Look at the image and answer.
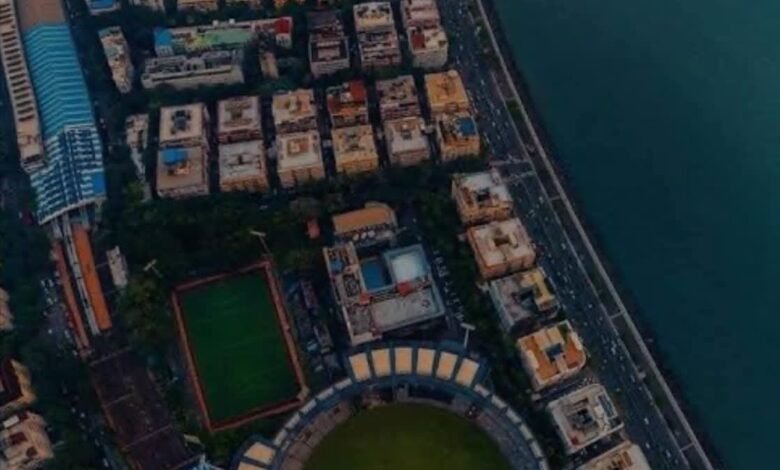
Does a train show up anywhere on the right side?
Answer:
No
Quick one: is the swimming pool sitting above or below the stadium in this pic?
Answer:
above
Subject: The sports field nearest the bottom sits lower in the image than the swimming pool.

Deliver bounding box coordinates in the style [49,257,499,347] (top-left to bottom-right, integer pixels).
[303,401,510,470]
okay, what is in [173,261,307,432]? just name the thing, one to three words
sports field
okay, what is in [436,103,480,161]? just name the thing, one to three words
building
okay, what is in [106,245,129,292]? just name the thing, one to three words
building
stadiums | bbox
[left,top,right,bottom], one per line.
[233,341,561,470]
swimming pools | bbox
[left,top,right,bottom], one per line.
[363,262,389,289]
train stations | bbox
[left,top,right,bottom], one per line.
[19,0,110,226]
